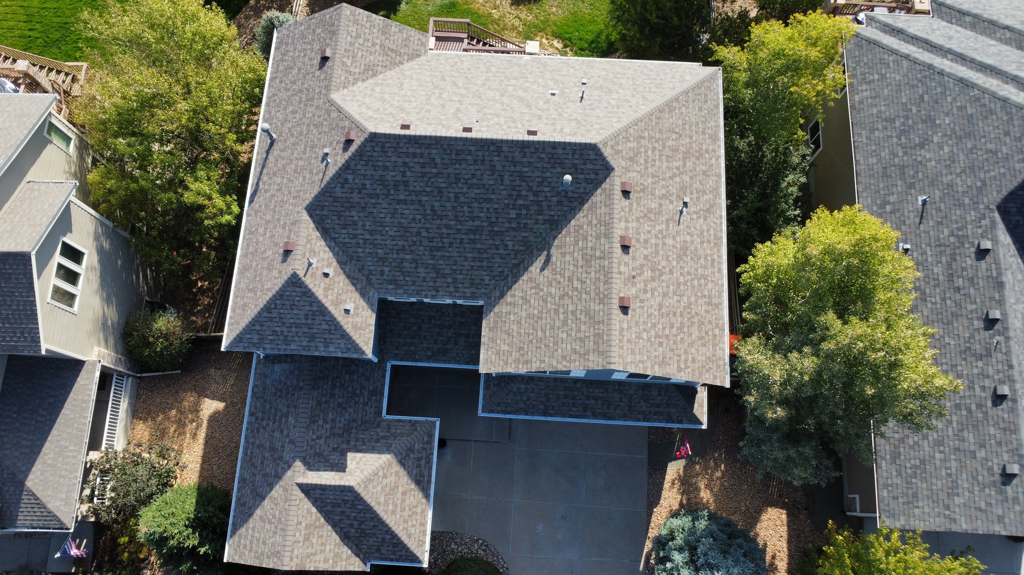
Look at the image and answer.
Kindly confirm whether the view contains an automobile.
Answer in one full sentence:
No, no automobile is visible in the scene.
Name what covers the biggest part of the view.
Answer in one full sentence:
For the most part, this view shows buildings.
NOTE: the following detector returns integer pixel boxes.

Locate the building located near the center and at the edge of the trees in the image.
[219,3,732,572]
